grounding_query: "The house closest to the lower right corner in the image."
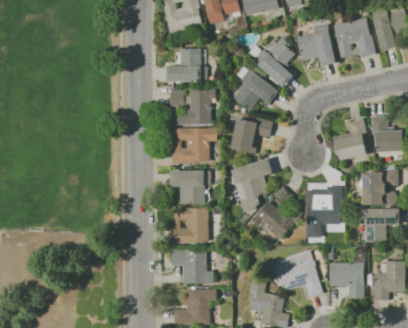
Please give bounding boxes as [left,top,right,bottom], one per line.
[367,261,406,300]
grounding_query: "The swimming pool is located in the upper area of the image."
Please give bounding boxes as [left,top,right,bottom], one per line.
[236,33,260,46]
